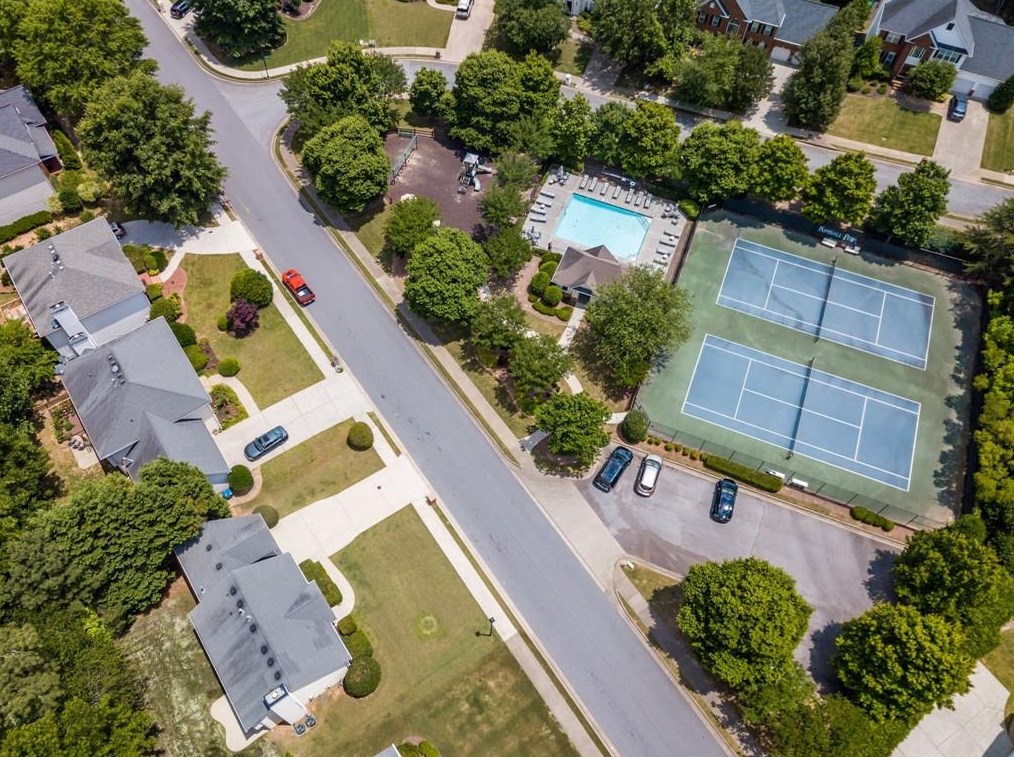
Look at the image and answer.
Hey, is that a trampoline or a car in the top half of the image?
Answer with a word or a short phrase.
car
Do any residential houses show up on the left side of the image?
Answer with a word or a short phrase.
Yes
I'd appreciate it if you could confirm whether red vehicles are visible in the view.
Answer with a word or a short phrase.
Yes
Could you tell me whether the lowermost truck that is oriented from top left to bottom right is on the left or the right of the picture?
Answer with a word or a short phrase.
left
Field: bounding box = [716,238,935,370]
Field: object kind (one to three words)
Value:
tennis court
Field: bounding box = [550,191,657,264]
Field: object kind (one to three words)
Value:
swimming pool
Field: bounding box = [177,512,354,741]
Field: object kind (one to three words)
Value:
house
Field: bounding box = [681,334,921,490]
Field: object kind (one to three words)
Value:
tennis court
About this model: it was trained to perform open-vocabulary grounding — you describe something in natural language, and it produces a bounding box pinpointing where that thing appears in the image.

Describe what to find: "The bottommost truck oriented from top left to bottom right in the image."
[279,270,320,308]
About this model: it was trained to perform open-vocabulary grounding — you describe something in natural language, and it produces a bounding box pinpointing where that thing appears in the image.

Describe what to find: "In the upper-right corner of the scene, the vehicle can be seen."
[946,98,967,124]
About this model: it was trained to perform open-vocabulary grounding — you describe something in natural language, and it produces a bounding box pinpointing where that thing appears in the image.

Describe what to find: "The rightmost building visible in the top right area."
[870,0,1014,99]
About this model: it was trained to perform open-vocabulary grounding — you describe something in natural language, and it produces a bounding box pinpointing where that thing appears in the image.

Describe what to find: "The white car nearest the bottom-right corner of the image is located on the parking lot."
[634,456,662,500]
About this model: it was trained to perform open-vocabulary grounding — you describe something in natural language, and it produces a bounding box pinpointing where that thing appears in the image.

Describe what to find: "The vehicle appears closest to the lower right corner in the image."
[710,480,738,527]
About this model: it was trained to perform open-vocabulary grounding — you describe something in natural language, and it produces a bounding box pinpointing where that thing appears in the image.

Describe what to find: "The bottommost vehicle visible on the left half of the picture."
[243,424,292,463]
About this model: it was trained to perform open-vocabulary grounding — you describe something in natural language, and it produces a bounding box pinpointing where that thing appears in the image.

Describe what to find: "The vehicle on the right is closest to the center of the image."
[594,447,631,495]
